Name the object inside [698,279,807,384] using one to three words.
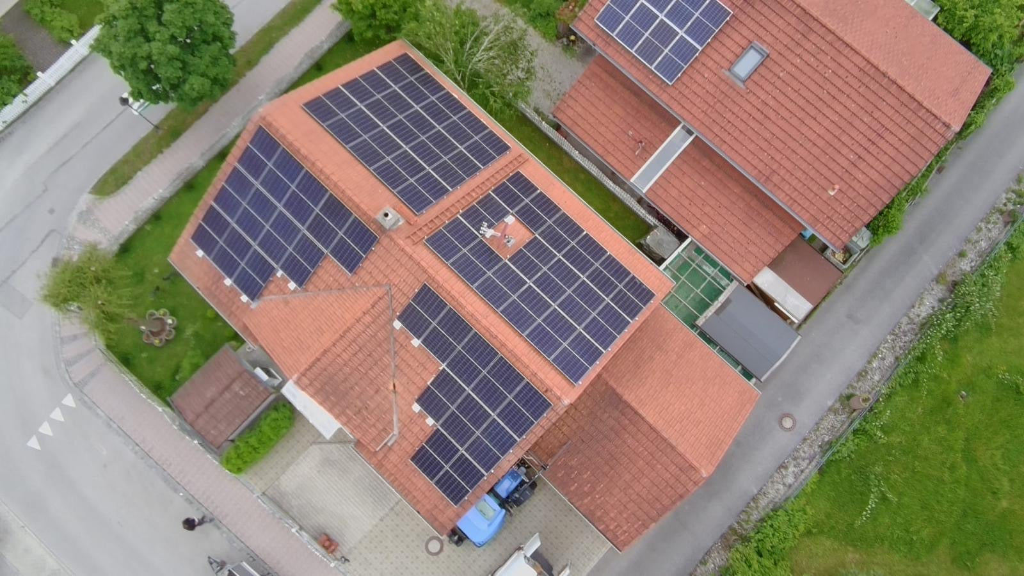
shed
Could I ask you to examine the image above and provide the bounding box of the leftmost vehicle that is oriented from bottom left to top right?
[451,469,536,549]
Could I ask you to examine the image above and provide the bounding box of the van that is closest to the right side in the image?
[498,522,577,576]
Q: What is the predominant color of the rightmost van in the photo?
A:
white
